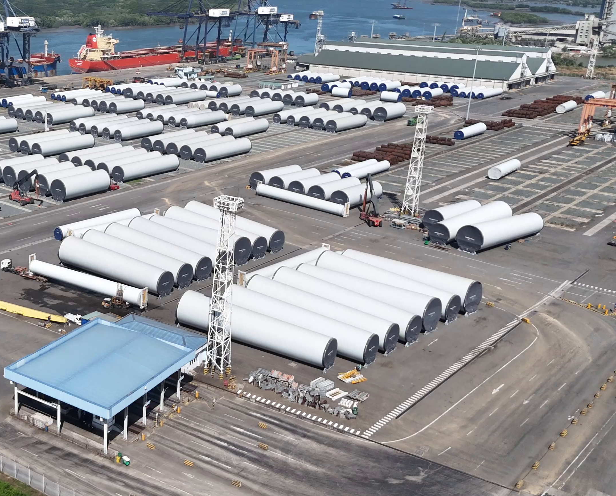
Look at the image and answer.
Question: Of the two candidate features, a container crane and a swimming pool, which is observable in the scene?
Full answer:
Visible in the photo is a container crane.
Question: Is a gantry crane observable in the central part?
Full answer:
No, the scene shows no gantry crane in the central part.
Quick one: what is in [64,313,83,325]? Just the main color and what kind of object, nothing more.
white vehicle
